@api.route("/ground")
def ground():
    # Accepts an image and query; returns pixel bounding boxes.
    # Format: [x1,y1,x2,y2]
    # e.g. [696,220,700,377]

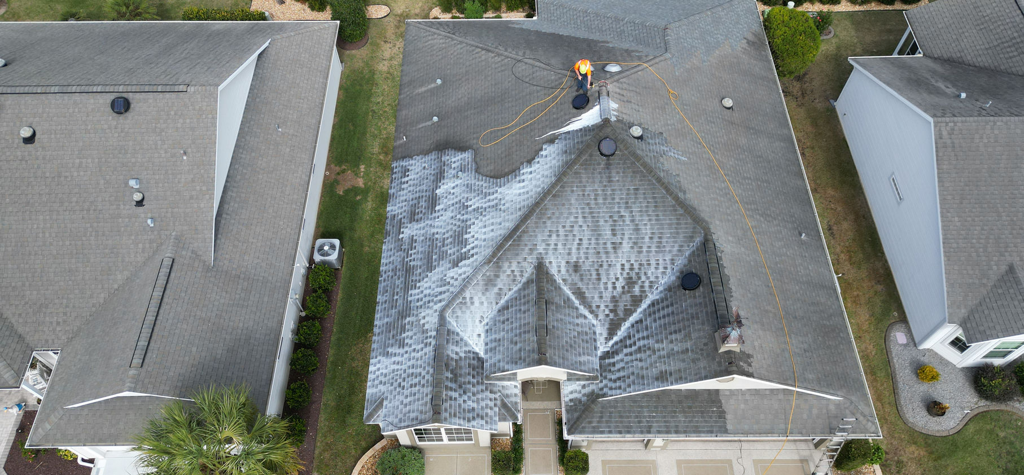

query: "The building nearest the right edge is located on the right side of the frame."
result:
[830,0,1024,366]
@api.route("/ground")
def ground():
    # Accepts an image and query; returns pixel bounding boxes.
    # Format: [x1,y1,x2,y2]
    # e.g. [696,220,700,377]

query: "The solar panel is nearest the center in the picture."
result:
[599,137,617,155]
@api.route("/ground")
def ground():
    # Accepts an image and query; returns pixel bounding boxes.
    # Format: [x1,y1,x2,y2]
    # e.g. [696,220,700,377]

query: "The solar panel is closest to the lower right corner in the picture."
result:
[679,269,697,286]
